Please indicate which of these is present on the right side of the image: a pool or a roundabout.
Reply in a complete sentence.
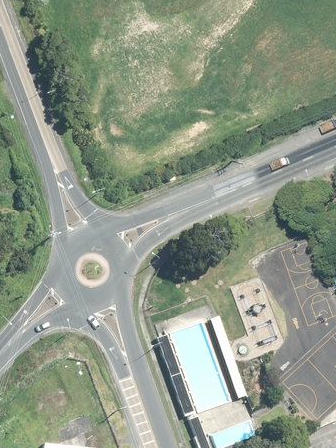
It is a pool that can be seen on the right side of the image.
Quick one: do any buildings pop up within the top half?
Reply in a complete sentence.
No, no building is visible within the top half.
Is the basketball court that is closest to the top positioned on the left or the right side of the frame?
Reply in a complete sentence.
The basketball court that is closest to the top appears in the right half of the scene.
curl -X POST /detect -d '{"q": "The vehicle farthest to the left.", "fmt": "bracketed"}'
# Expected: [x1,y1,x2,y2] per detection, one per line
[34,320,50,332]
